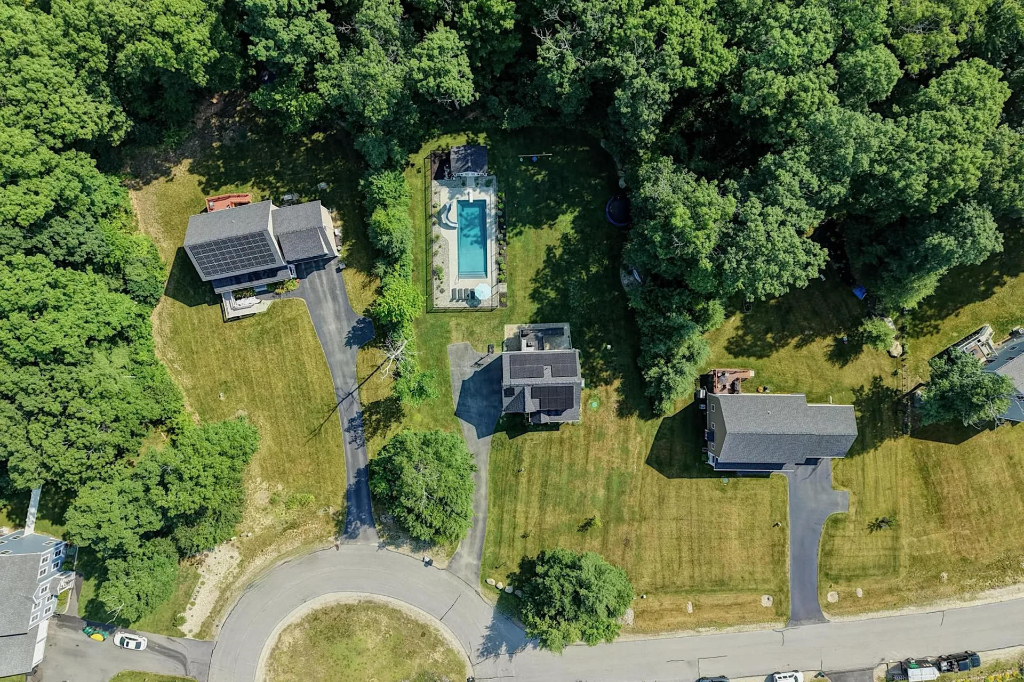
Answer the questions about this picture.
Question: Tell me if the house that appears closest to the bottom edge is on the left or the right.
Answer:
left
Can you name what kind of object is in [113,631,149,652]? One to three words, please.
car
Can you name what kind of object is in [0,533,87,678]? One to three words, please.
house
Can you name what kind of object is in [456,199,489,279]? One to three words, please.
swimming pool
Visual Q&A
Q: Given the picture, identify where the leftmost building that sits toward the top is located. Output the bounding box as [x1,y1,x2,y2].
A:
[184,193,336,297]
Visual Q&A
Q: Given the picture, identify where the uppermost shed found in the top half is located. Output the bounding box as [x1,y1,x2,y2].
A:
[450,142,488,177]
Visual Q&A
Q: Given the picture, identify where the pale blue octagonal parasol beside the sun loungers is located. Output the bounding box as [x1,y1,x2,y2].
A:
[475,284,492,301]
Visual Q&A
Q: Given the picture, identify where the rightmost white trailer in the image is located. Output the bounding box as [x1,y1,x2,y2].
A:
[883,659,946,682]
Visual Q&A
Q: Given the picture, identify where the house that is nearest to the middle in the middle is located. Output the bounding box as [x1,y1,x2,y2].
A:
[502,322,581,424]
